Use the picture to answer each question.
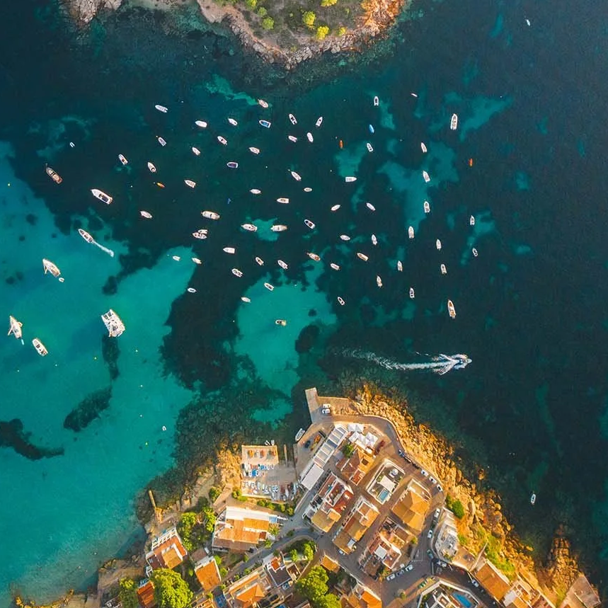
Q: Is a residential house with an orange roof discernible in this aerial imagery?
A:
Yes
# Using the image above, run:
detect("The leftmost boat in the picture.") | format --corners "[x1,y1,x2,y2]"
[7,316,22,340]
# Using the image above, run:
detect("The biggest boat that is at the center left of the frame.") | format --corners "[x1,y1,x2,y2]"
[102,308,127,339]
